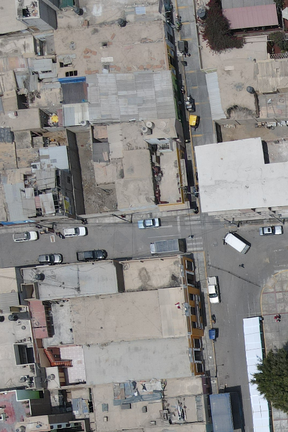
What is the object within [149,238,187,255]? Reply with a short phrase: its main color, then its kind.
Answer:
gray vehicle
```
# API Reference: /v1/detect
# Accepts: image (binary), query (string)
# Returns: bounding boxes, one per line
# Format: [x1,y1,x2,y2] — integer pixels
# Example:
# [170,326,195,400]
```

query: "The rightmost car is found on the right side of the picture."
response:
[260,223,284,236]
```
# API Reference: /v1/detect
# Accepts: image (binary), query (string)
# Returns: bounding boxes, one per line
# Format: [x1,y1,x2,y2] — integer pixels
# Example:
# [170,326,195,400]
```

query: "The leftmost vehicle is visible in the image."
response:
[12,229,40,241]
